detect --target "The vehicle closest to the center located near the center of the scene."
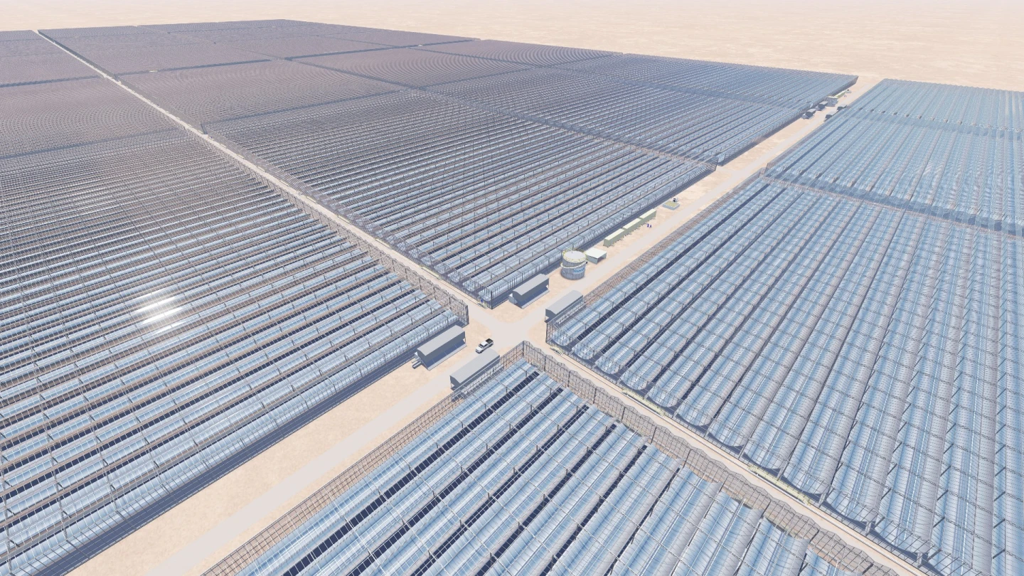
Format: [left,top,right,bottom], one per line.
[475,339,494,353]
